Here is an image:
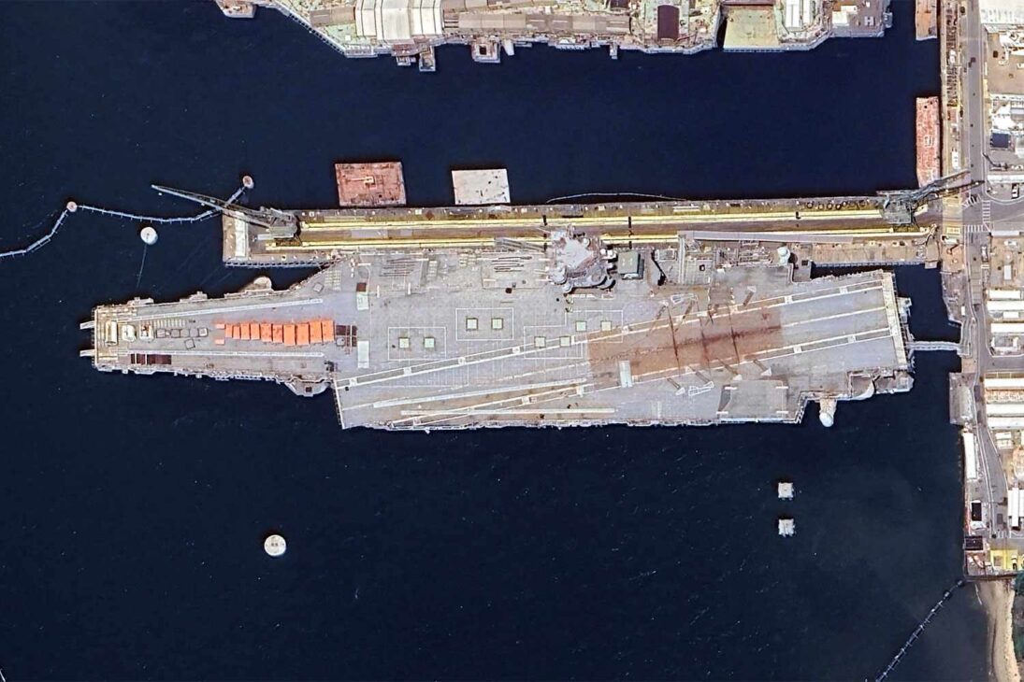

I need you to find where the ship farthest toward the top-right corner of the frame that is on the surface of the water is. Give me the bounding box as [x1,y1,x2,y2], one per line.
[915,0,939,41]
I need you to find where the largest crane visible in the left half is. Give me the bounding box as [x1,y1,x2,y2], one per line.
[151,185,303,253]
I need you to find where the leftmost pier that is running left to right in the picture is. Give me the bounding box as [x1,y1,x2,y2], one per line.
[78,205,223,222]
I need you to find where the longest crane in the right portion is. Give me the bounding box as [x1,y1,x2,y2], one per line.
[883,172,970,240]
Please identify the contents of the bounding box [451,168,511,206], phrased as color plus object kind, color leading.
white ship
